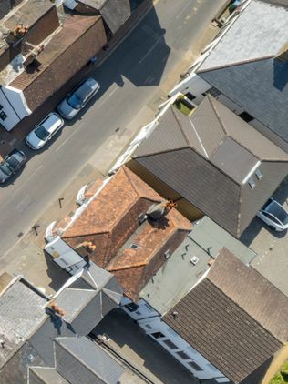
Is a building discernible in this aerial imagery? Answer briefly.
Yes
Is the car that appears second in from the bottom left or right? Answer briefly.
left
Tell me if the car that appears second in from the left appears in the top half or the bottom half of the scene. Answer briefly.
top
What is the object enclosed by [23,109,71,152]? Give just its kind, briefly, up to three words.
car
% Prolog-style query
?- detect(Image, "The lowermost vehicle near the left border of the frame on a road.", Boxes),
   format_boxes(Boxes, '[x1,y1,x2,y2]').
[0,148,31,185]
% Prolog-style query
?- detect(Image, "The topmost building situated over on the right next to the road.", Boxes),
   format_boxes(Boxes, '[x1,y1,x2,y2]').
[168,0,288,154]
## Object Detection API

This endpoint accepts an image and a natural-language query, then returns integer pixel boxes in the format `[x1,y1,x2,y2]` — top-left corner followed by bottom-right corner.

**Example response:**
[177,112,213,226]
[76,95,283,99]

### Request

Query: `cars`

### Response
[23,109,71,152]
[54,73,106,120]
[0,148,31,185]
[254,201,288,241]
